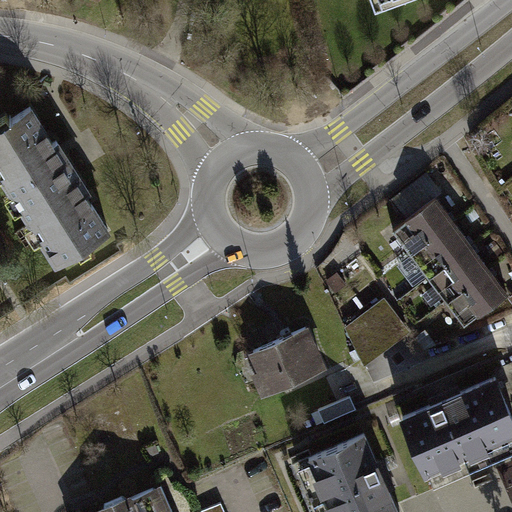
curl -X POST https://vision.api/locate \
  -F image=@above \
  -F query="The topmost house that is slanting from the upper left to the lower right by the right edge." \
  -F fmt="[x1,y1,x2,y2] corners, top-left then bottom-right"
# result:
[393,198,508,329]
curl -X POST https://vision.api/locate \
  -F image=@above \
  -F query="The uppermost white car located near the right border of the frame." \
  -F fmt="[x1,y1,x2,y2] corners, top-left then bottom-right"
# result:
[486,320,506,334]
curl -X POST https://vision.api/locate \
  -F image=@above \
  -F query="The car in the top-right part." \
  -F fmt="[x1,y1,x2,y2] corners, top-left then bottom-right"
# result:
[412,102,434,122]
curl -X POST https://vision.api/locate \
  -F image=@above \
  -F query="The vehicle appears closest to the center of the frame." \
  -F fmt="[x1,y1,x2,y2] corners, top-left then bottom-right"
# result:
[226,250,244,264]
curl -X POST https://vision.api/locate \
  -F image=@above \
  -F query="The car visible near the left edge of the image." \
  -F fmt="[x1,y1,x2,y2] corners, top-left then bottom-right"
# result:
[16,374,37,391]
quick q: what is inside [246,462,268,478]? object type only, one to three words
car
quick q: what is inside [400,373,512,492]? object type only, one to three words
house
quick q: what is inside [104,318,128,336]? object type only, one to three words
car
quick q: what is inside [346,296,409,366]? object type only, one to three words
building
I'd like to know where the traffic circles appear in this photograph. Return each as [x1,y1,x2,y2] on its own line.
[191,130,329,268]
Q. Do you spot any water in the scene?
No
